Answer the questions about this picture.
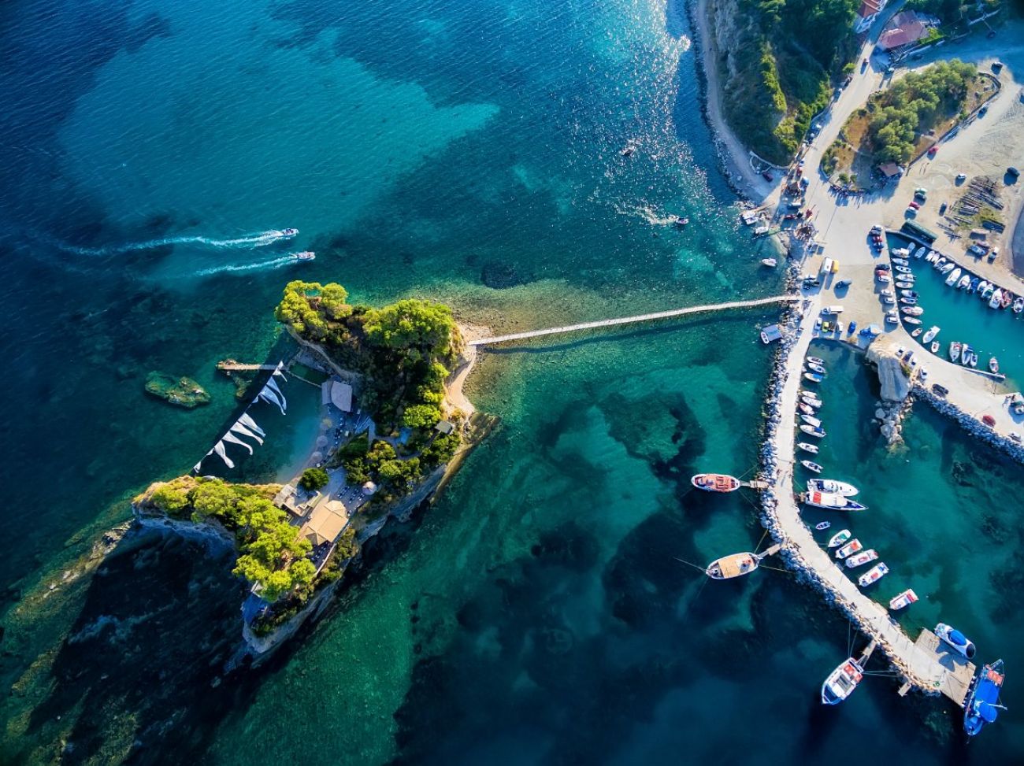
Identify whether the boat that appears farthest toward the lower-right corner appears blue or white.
blue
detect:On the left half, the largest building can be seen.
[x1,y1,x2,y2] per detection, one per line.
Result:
[303,495,348,547]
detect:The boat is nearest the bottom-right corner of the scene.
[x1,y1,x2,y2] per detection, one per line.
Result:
[964,663,1009,741]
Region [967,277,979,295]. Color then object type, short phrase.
blue boat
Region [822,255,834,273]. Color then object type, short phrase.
white vehicle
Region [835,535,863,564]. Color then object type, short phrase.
white boat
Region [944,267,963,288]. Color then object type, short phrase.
white boat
